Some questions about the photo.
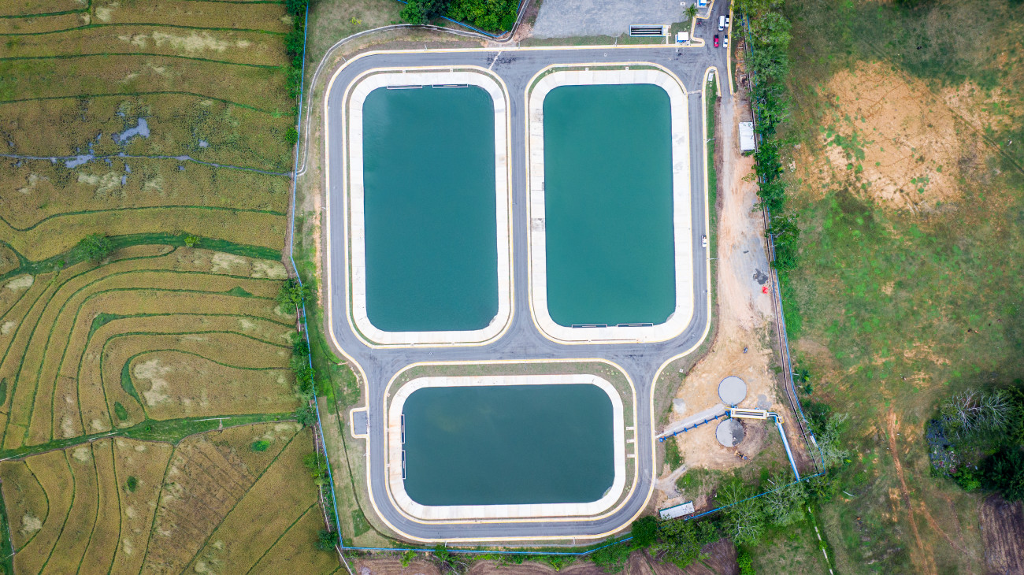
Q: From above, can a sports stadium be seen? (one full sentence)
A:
No, no sports stadium is visible in the view.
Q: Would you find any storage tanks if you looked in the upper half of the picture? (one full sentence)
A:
No, in the upper half of the picture there is no storage tank.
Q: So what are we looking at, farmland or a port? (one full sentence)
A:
The picture captures farmland.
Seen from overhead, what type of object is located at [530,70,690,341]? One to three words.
pond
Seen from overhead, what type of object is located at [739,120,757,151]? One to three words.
shed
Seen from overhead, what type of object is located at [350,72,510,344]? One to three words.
pond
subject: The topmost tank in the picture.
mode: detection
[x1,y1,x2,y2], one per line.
[718,376,748,405]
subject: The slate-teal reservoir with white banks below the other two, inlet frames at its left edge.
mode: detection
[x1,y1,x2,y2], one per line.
[389,374,625,519]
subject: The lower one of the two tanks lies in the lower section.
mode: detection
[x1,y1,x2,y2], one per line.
[715,418,746,447]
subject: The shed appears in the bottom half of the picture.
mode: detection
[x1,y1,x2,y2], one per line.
[659,502,695,523]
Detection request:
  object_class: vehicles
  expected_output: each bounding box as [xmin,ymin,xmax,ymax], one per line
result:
[714,34,720,47]
[719,16,725,30]
[725,14,730,28]
[723,34,729,48]
[702,235,708,248]
[734,447,750,460]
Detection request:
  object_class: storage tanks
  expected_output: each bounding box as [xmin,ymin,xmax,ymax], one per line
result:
[715,418,746,447]
[718,376,748,405]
